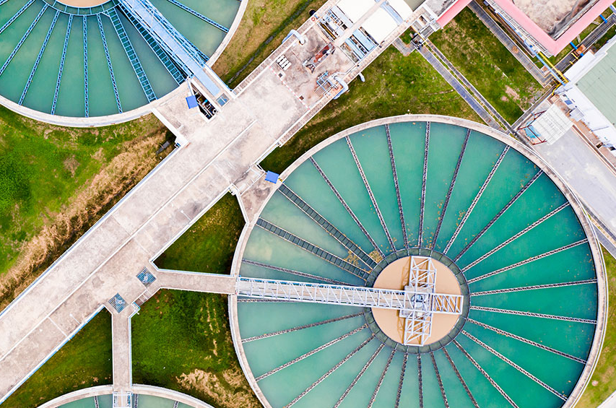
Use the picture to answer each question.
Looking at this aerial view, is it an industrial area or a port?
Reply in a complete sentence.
The area seen from above is an industrial area.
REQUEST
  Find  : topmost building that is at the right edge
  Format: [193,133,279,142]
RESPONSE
[491,0,615,58]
